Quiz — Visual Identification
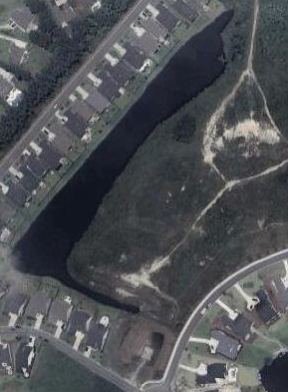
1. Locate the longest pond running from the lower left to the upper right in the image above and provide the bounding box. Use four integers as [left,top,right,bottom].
[14,12,233,313]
